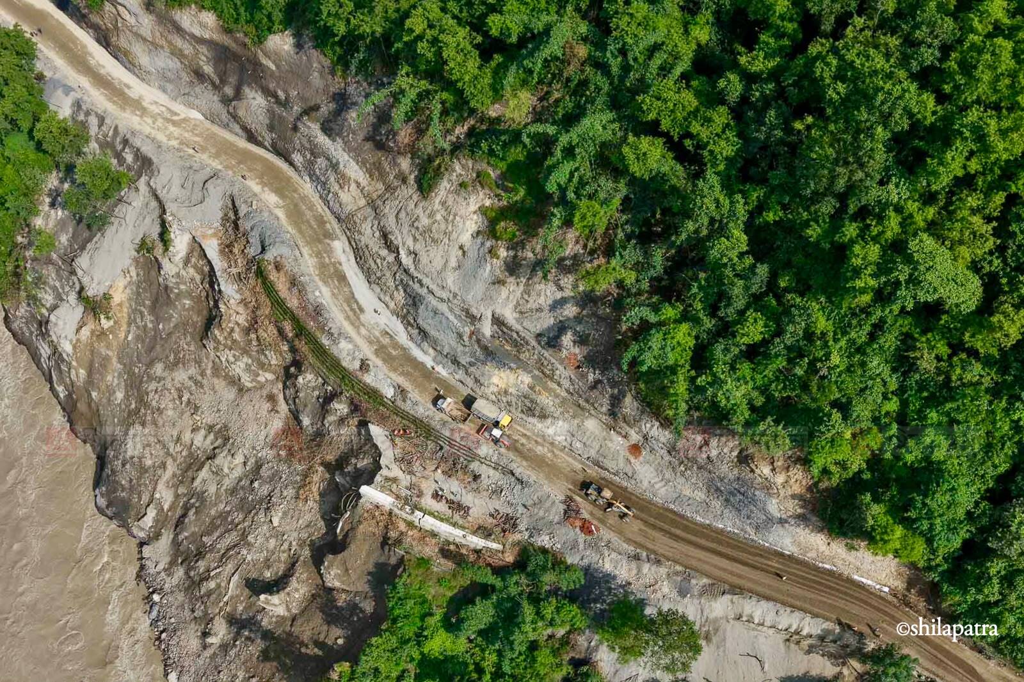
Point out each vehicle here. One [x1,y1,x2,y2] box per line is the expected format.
[479,423,513,448]
[586,484,640,527]
[471,399,513,432]
[435,397,475,426]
